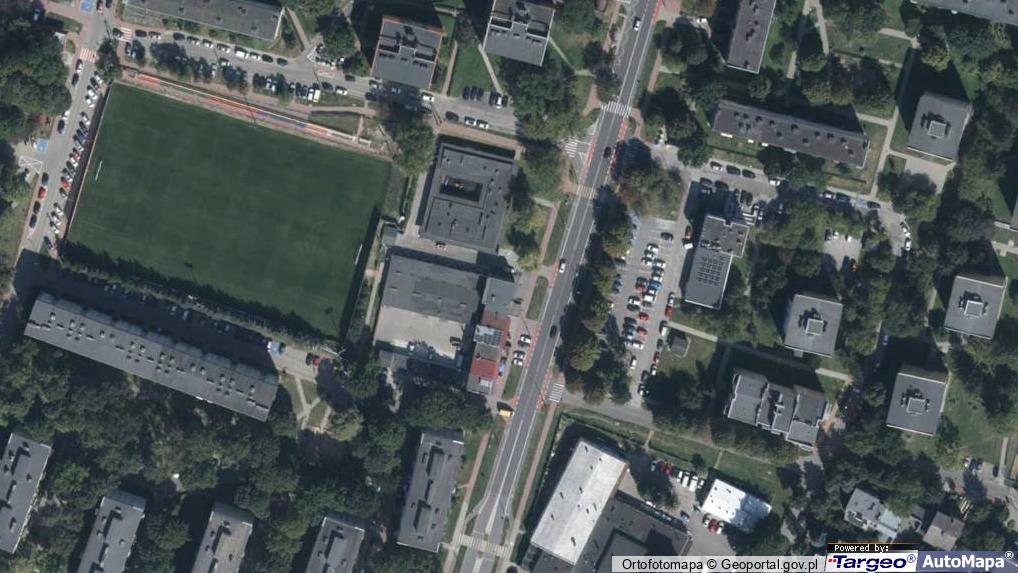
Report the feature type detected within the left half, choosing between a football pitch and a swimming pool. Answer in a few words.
football pitch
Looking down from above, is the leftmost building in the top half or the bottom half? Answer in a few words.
bottom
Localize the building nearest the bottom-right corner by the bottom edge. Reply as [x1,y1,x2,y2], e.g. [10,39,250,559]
[921,508,967,558]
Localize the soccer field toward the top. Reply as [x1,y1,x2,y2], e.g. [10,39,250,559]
[64,84,393,337]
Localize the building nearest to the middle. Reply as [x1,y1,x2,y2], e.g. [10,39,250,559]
[483,273,519,316]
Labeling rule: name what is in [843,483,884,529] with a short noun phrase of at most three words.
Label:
house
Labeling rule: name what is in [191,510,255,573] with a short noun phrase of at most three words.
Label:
building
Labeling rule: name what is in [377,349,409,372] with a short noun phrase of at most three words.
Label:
shed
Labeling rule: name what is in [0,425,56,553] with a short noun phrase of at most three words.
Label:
building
